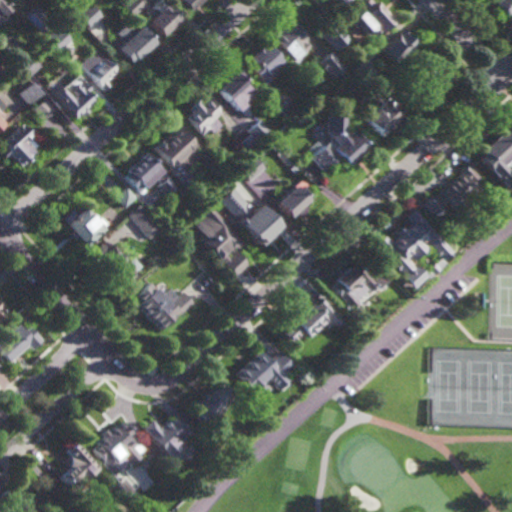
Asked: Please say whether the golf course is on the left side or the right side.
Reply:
right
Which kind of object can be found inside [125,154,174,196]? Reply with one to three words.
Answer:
house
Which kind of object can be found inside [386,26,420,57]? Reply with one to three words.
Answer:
house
